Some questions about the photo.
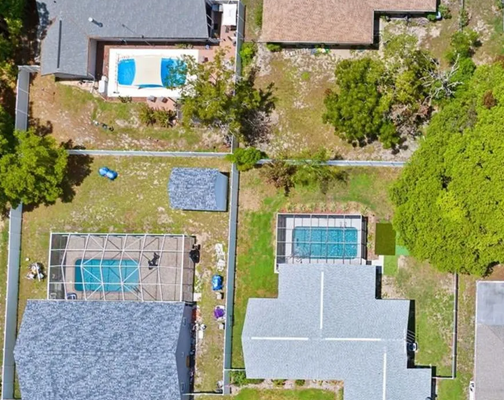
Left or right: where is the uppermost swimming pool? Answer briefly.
left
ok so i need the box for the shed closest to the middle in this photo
[165,168,227,211]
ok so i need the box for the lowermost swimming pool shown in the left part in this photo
[67,237,195,303]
